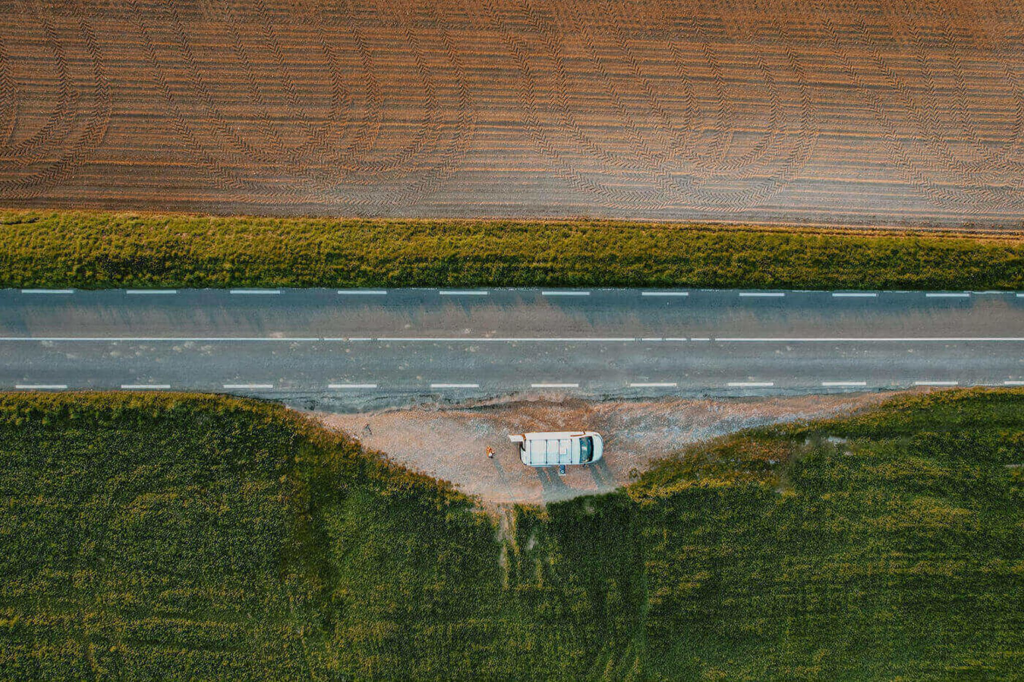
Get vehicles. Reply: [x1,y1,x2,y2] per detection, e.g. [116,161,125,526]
[509,431,605,469]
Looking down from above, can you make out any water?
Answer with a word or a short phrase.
No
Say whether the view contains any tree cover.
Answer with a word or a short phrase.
No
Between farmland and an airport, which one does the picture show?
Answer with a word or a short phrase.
farmland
